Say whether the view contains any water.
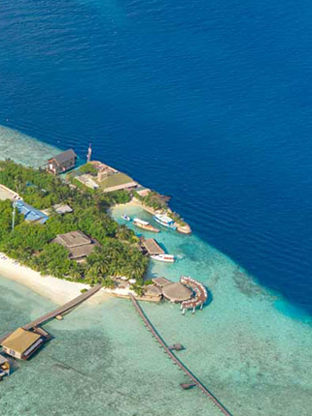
Yes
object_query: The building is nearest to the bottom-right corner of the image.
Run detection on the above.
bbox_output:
[161,284,193,310]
